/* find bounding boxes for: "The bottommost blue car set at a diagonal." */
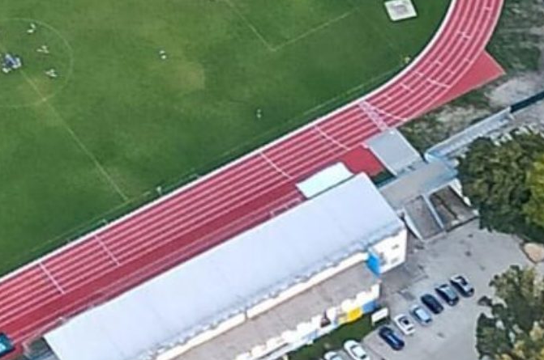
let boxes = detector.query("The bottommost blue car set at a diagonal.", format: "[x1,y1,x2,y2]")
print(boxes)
[377,326,407,350]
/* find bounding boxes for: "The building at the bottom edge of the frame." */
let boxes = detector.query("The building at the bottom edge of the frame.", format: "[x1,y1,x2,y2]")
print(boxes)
[149,256,377,360]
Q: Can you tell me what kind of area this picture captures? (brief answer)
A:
sports ground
